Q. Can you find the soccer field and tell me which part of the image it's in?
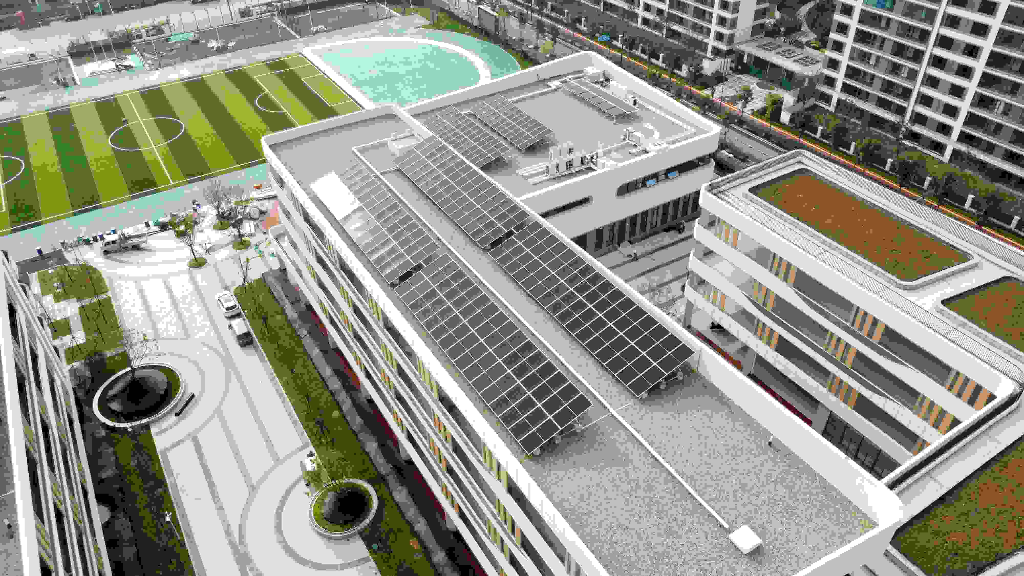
top left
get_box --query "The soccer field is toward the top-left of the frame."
[0,53,367,235]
